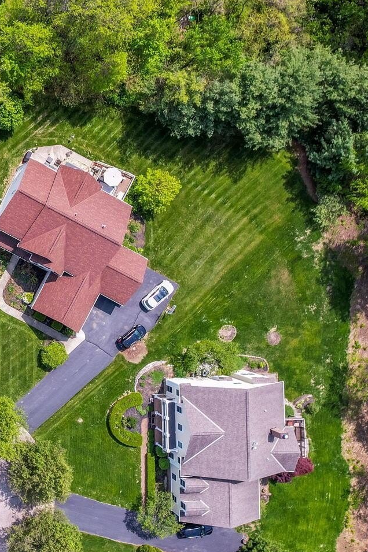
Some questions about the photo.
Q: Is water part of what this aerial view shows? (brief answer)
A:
No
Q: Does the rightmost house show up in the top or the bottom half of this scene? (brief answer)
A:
bottom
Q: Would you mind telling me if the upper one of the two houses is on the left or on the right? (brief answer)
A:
left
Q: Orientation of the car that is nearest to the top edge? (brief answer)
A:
at an angle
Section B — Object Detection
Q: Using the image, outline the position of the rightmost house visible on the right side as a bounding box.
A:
[150,376,304,530]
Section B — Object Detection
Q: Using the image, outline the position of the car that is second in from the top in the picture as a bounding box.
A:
[112,321,149,355]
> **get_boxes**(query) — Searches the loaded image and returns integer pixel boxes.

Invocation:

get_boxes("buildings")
[0,159,148,332]
[150,376,304,530]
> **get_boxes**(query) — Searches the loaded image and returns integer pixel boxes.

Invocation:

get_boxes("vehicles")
[112,321,149,355]
[139,278,176,315]
[175,523,213,542]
